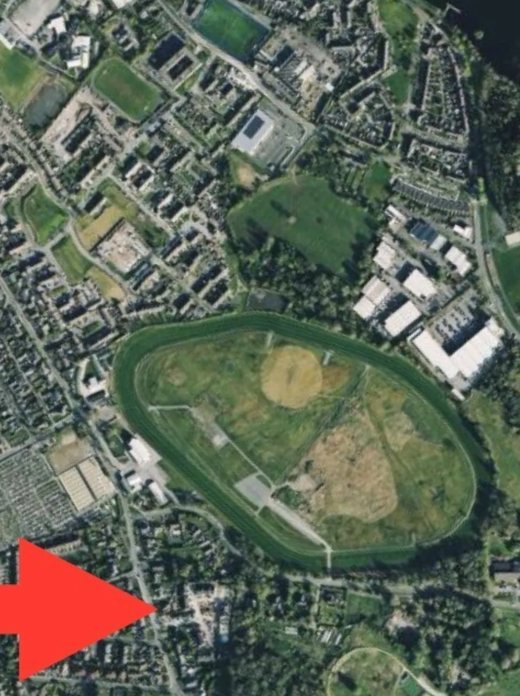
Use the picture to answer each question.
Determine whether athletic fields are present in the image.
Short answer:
Yes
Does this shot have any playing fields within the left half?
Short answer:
Yes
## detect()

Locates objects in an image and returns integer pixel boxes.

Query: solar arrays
[243,119,265,143]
